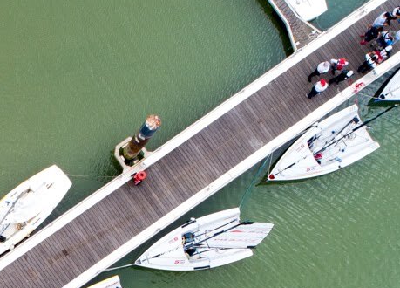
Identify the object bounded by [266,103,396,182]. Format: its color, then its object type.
white boat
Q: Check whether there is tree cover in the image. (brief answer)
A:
No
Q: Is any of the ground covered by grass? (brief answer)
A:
No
